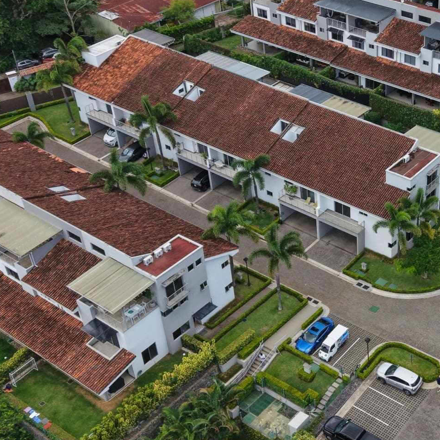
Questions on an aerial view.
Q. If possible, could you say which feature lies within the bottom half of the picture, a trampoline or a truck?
truck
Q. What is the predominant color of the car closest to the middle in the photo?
black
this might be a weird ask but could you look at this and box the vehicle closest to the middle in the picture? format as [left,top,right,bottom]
[183,167,209,190]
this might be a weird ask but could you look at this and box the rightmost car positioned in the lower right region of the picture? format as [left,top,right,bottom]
[375,363,425,395]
